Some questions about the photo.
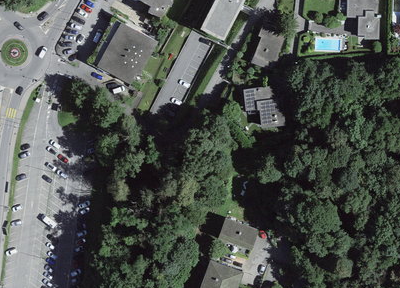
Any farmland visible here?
No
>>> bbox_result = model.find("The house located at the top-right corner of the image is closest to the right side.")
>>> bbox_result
[346,0,380,40]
